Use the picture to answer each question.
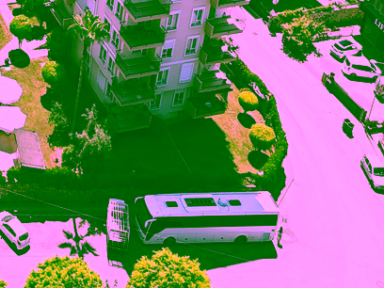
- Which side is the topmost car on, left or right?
right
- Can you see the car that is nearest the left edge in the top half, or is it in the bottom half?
bottom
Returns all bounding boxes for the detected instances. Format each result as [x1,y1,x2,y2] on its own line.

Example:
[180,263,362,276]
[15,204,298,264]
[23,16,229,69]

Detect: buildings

[45,0,273,127]
[355,0,384,57]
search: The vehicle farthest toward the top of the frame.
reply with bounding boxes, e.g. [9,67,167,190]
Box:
[322,33,370,61]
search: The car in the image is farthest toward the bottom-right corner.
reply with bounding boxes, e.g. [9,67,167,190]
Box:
[359,157,384,191]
